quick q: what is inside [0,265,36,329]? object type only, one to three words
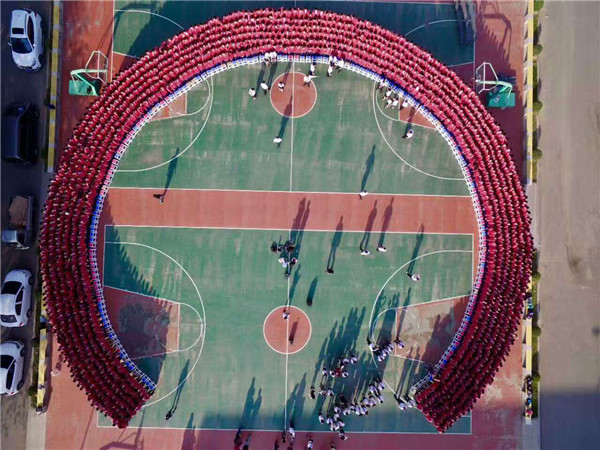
car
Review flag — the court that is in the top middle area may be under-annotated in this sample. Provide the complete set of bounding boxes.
[107,0,474,196]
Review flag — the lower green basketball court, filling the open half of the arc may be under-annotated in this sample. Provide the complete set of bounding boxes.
[97,226,473,434]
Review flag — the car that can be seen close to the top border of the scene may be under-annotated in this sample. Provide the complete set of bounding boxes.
[6,6,46,71]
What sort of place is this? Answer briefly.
sports ground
